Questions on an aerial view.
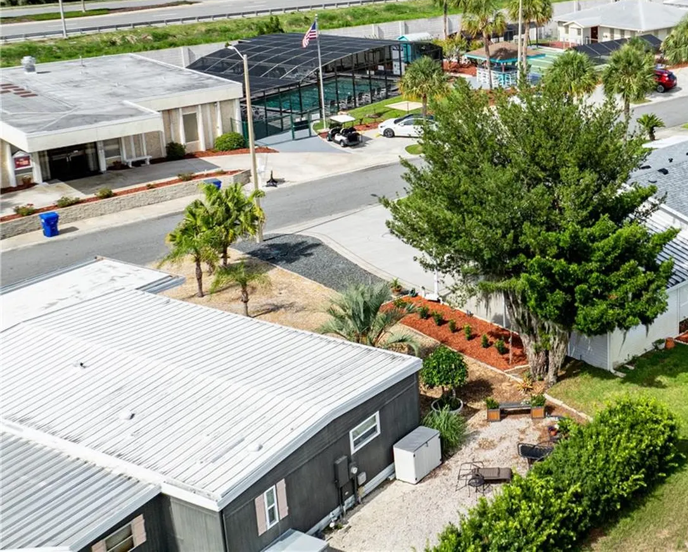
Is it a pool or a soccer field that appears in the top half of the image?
pool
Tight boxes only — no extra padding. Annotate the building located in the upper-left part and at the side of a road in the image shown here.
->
[0,51,246,186]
